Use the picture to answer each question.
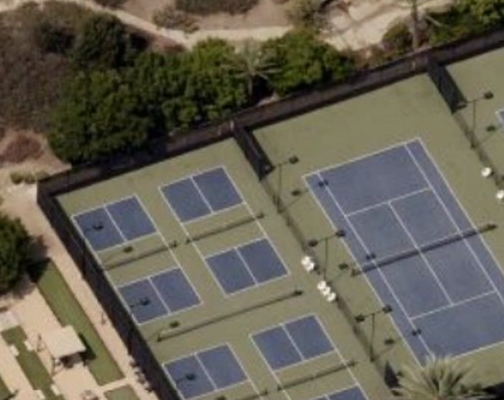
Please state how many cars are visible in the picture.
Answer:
zero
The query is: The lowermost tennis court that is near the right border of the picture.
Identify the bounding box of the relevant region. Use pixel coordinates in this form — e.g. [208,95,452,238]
[305,140,504,369]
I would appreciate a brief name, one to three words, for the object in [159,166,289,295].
sports court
